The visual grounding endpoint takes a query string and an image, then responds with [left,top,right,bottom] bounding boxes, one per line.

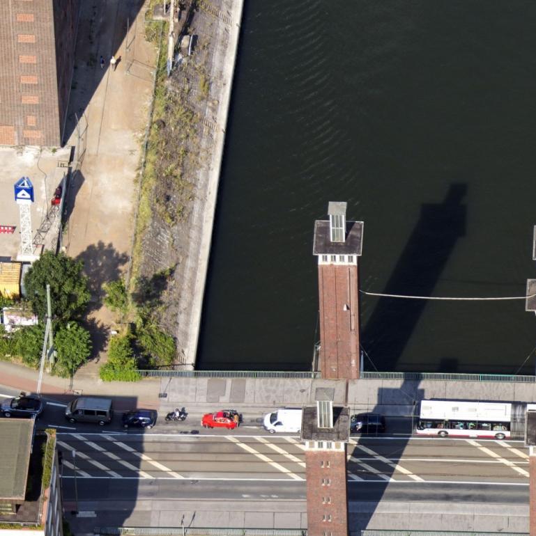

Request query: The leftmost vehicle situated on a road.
[0,397,40,418]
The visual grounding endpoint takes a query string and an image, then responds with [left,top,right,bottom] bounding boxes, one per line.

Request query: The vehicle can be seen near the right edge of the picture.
[414,399,536,439]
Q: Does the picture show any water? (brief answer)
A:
Yes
